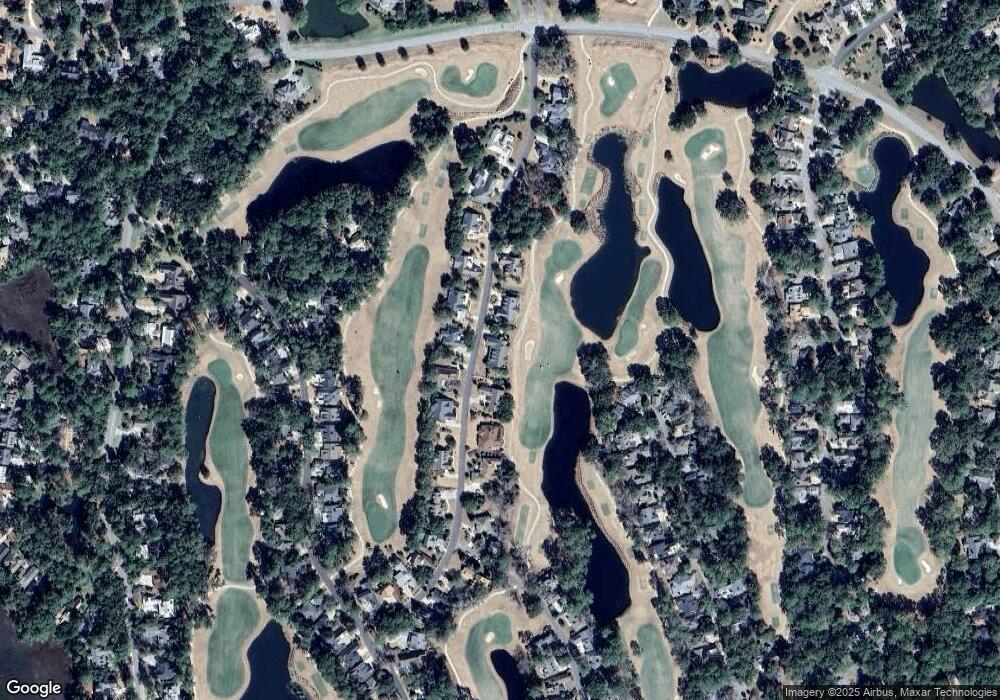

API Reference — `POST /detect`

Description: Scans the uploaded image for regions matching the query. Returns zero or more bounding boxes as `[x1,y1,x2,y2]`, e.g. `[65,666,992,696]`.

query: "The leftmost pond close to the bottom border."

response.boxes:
[238,619,304,700]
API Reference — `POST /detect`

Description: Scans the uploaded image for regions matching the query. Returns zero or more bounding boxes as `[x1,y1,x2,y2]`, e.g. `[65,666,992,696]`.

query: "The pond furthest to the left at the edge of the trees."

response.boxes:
[186,376,222,548]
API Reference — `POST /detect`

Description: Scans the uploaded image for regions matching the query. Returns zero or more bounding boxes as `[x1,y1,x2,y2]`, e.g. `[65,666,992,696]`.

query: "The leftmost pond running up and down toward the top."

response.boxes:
[570,133,649,340]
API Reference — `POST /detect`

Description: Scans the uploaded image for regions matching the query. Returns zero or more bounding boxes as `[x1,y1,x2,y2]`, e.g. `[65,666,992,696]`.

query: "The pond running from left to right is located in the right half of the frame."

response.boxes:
[679,62,773,107]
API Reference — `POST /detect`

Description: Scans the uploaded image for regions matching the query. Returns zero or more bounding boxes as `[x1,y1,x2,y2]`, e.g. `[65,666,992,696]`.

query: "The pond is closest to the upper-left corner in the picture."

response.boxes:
[300,0,368,37]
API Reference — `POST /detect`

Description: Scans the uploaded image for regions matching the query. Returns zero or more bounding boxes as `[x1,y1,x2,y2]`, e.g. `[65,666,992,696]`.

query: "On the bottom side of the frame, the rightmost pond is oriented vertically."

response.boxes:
[542,380,630,622]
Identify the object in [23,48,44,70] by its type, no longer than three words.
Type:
house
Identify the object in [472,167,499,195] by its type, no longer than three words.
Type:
house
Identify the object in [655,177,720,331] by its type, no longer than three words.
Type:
pond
